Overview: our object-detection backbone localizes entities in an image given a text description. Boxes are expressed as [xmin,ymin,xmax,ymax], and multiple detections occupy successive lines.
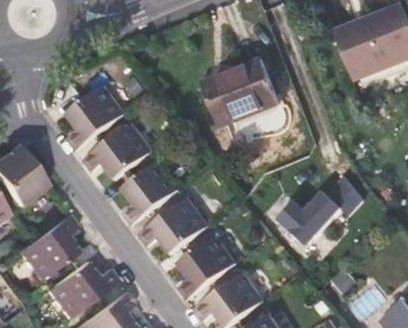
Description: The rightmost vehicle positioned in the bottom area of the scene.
[184,308,201,328]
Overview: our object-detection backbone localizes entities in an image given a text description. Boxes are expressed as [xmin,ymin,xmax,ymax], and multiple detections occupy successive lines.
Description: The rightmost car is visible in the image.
[256,26,270,42]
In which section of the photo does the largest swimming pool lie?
bottom right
